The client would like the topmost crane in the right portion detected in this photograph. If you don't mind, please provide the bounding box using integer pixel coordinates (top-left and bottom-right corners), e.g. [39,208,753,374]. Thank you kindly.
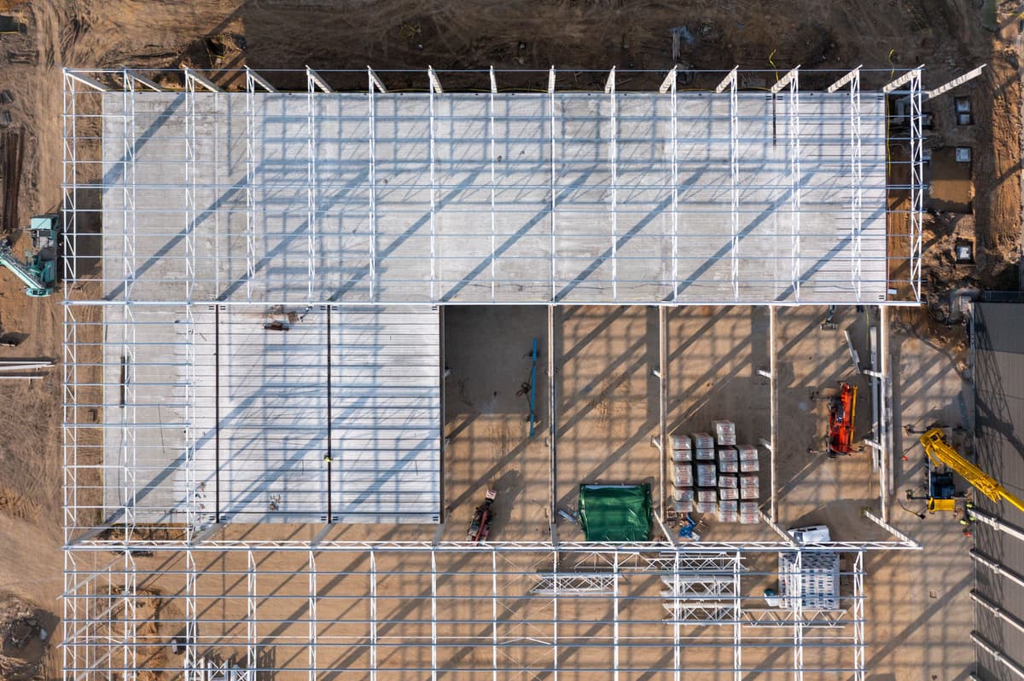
[805,381,862,456]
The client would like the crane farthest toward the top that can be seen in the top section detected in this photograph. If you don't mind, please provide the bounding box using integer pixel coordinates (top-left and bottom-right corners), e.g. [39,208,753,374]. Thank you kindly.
[0,213,64,297]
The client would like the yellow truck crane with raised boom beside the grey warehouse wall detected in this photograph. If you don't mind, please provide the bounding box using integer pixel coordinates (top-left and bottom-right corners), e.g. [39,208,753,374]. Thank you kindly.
[901,417,1024,518]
